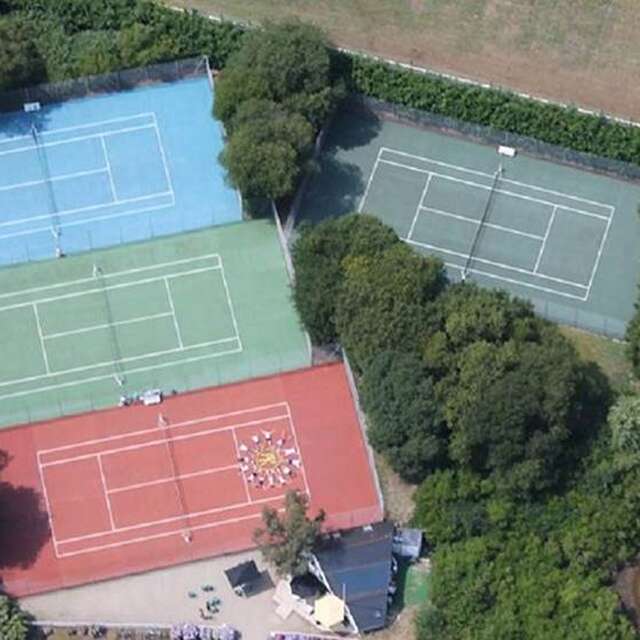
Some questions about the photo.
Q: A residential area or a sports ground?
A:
sports ground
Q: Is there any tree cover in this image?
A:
Yes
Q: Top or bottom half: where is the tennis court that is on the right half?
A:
top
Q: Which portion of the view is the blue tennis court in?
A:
top left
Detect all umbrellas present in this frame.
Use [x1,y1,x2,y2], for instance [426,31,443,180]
[225,562,261,589]
[314,595,345,628]
[286,573,321,603]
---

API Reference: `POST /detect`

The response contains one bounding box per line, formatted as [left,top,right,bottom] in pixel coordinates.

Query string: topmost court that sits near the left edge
[0,81,242,266]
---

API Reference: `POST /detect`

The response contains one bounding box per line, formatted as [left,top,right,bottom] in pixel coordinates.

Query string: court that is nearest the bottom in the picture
[0,361,382,595]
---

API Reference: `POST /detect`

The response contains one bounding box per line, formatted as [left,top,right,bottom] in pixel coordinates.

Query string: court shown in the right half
[288,107,640,340]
